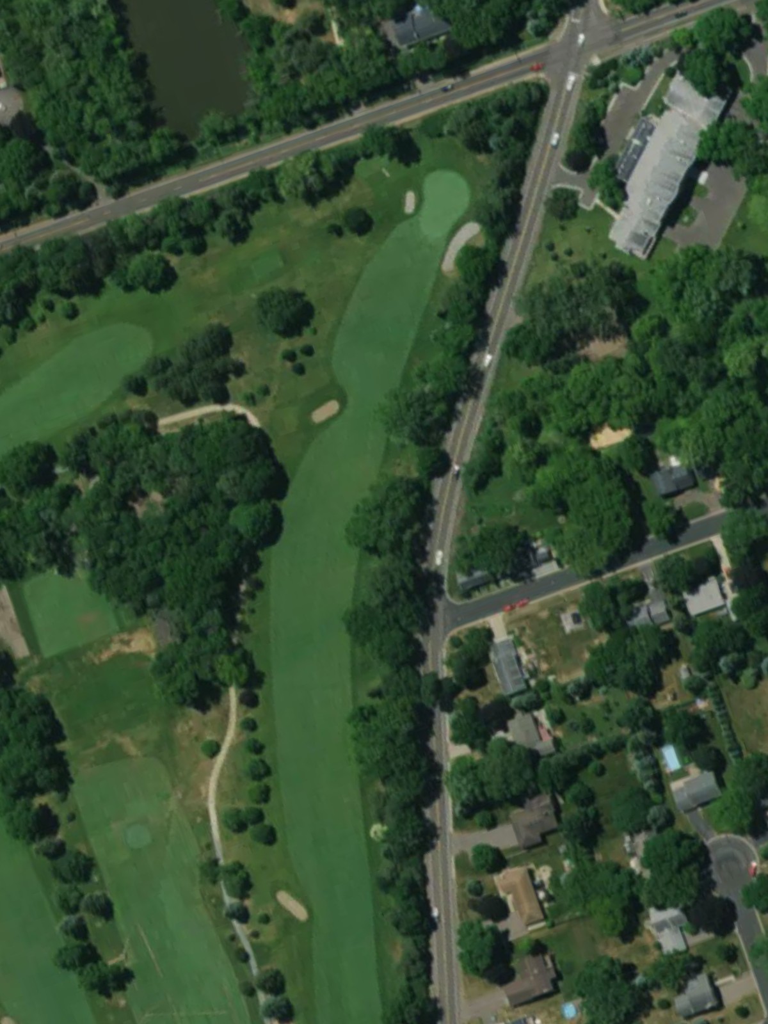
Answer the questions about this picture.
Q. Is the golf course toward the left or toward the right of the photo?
left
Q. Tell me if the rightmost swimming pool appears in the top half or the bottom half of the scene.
bottom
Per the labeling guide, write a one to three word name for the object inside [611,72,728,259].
building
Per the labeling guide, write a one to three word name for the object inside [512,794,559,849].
house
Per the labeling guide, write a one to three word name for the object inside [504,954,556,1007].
house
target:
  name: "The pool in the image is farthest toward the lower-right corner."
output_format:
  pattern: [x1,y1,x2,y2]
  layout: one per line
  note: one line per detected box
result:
[561,1003,577,1018]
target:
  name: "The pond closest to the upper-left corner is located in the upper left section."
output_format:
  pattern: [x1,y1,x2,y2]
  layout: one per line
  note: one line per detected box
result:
[125,0,248,137]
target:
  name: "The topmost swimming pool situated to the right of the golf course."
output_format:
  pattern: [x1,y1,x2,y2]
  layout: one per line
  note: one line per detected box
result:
[661,743,681,772]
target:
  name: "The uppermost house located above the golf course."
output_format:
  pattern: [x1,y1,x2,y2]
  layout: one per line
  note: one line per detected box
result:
[395,1,449,44]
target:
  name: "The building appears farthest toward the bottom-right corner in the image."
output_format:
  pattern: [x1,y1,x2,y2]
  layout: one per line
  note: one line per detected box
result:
[676,974,717,1018]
